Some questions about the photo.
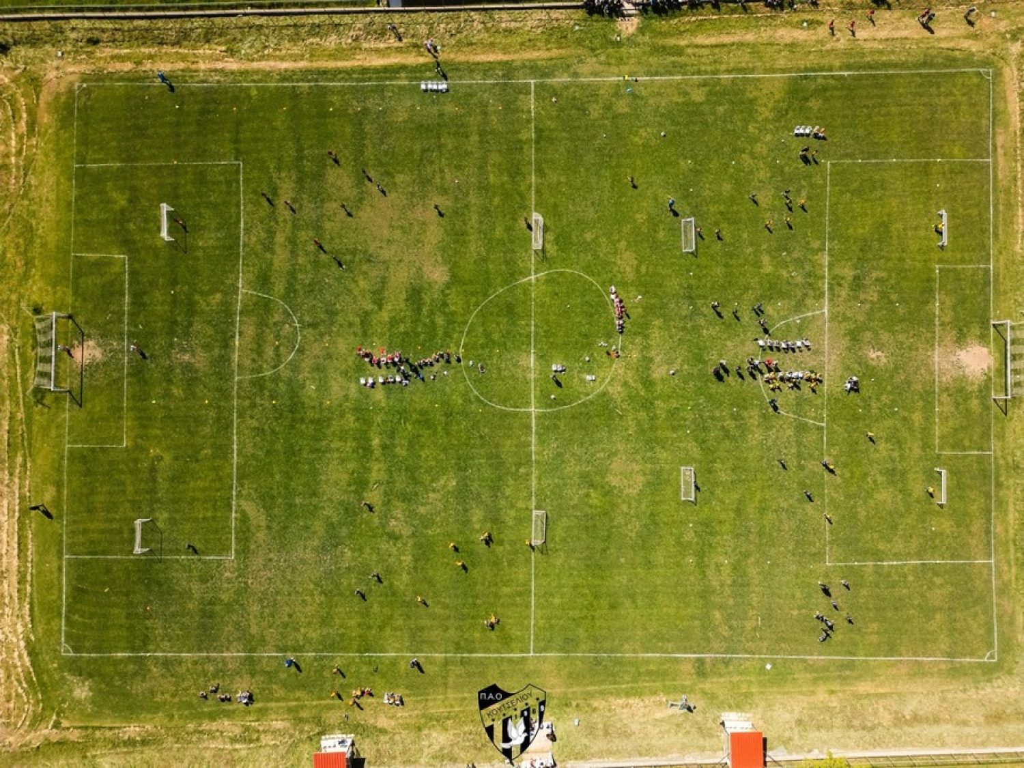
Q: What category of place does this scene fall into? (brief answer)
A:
sports ground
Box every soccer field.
[57,65,1001,666]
